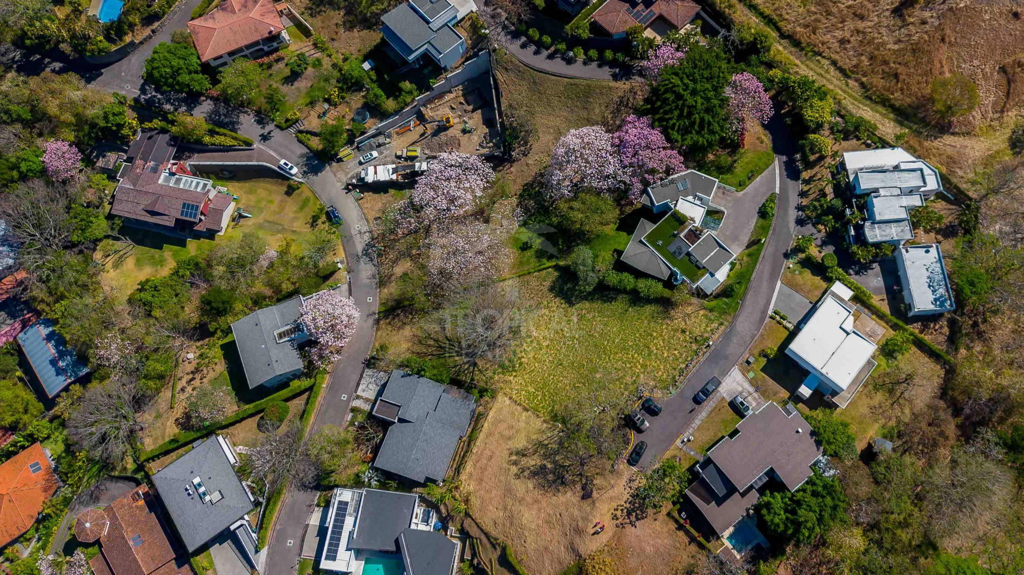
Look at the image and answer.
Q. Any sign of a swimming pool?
Yes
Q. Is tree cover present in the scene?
Yes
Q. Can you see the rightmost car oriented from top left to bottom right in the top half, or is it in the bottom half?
bottom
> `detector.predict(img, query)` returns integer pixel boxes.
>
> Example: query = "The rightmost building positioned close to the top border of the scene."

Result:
[591,0,701,44]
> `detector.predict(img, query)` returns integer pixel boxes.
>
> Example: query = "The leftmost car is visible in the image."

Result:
[276,159,300,175]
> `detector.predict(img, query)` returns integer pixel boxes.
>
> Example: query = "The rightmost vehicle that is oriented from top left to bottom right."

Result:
[732,392,754,416]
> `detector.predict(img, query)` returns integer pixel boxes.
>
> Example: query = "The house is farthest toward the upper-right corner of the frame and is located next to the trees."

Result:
[839,147,942,243]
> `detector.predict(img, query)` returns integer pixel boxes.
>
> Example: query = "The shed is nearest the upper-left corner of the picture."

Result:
[95,153,122,169]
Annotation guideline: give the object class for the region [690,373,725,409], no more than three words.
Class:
truck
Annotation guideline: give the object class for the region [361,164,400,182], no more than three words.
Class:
shed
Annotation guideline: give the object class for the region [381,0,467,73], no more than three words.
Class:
house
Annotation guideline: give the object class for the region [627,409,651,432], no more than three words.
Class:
car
